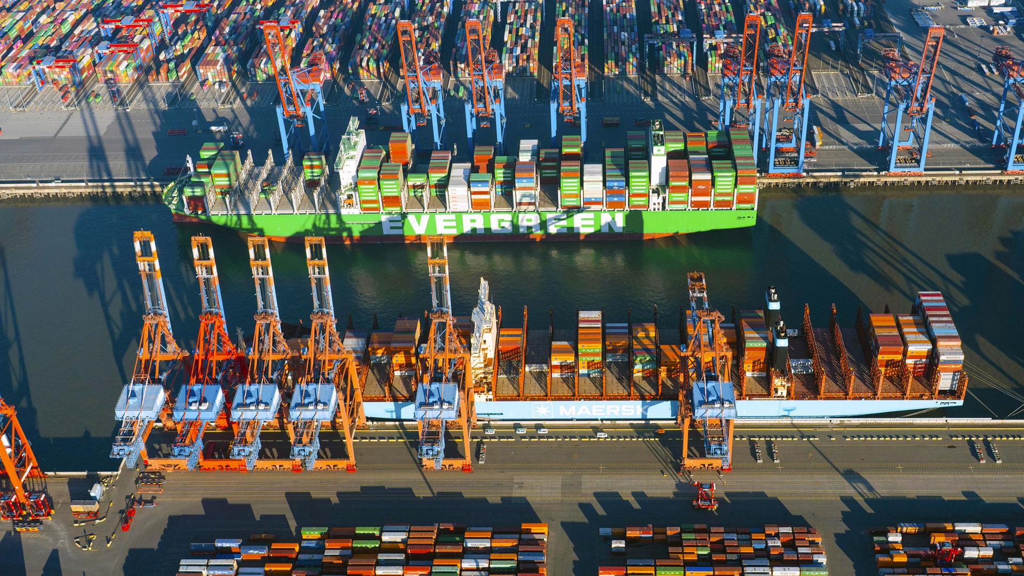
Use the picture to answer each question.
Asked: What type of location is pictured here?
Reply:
port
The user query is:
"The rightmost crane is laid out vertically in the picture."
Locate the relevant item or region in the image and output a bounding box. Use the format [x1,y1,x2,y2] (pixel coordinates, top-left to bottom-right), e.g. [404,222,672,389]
[988,45,1024,170]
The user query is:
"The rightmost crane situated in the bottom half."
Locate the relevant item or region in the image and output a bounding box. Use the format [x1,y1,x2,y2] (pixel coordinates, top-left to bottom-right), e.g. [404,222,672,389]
[672,271,741,474]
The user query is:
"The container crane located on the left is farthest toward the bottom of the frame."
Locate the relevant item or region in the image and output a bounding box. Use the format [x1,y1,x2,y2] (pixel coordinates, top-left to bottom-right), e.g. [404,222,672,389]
[0,392,43,529]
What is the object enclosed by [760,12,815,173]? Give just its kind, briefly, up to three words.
container crane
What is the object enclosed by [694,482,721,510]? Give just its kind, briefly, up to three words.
work vehicle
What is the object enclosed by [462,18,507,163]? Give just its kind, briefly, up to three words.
container crane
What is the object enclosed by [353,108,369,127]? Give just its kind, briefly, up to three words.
work vehicle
